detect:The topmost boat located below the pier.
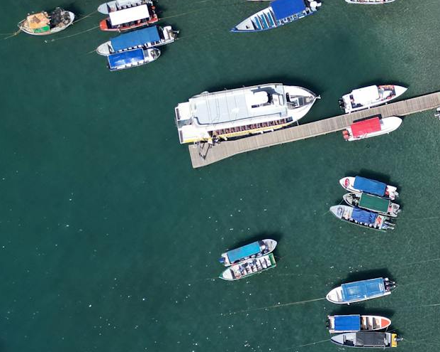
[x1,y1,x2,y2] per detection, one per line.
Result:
[339,177,403,201]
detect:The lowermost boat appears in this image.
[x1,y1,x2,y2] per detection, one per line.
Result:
[332,332,403,347]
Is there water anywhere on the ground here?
Yes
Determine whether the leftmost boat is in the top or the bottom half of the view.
top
